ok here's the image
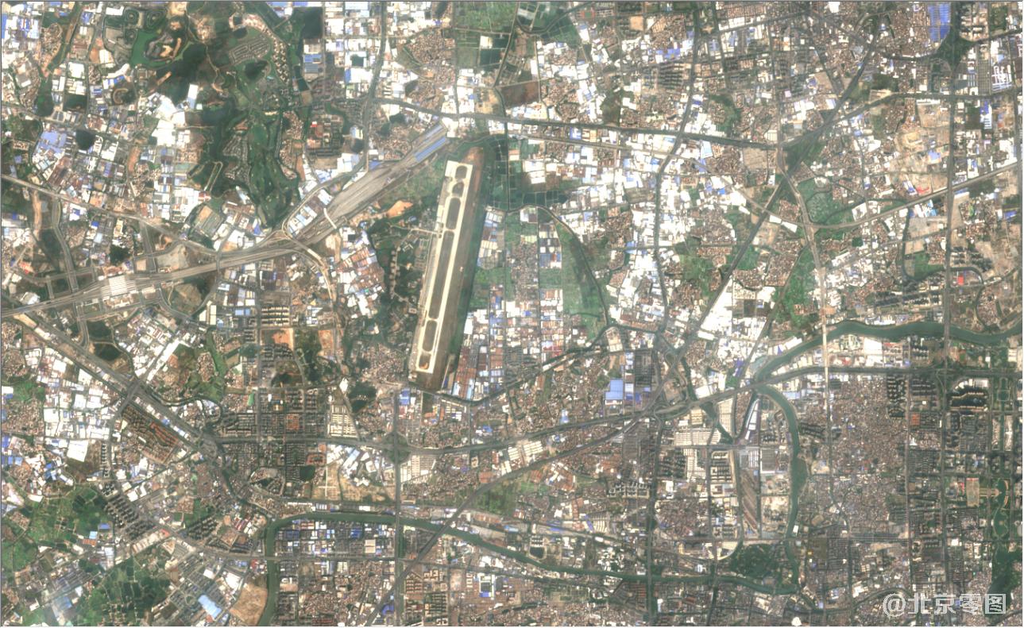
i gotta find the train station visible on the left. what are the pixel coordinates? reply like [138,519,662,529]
[99,266,156,306]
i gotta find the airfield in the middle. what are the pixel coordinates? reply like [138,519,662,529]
[409,147,483,387]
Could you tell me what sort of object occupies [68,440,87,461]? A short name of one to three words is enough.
shed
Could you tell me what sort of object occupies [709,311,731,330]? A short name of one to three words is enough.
shed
